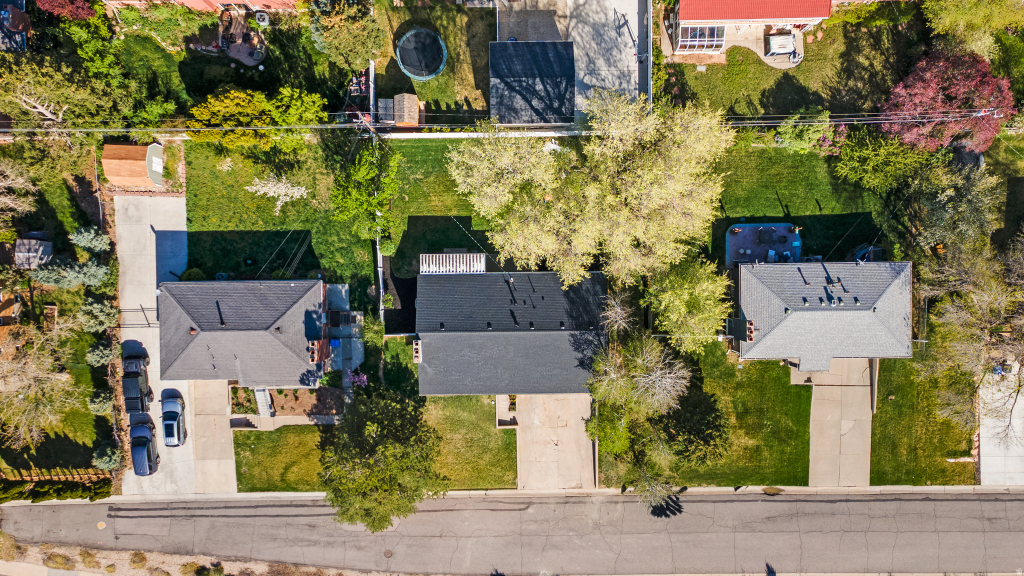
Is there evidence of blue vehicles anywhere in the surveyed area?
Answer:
Yes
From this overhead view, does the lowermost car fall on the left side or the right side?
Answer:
left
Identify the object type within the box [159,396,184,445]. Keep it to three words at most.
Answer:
car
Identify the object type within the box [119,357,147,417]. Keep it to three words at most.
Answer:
truck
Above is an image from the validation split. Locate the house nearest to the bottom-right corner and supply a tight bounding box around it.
[721,260,913,373]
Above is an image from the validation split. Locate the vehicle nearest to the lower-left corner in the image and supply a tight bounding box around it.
[131,424,159,475]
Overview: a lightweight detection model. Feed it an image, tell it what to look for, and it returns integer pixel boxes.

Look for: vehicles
[131,424,159,475]
[119,357,147,417]
[159,396,184,445]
